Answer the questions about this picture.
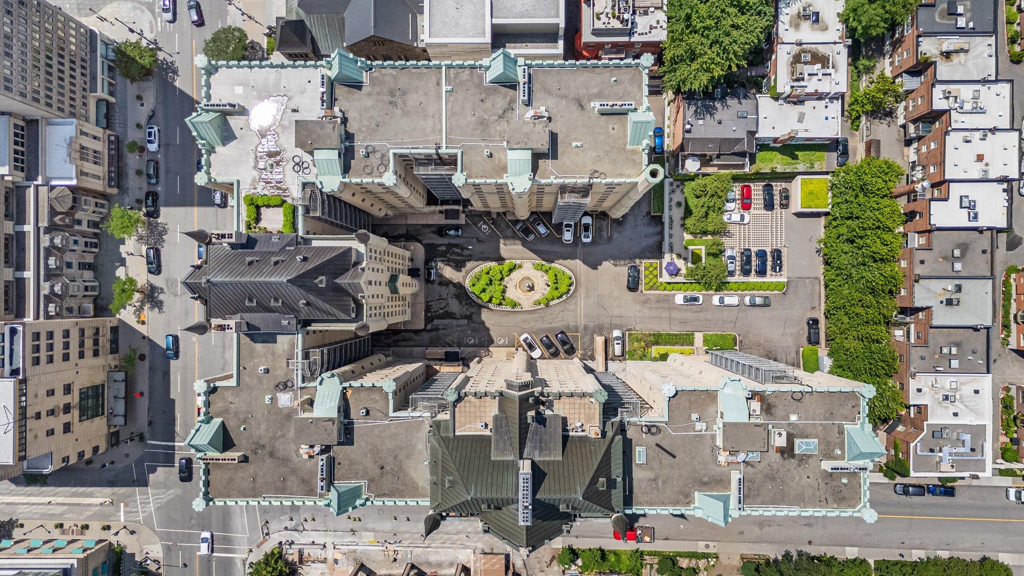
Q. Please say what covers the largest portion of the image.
buildings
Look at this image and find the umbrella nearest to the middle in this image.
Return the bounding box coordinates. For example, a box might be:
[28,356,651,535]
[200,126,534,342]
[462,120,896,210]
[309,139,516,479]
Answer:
[663,262,677,274]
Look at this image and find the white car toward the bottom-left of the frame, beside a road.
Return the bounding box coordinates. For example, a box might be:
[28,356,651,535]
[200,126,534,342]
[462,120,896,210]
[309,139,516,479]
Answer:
[199,528,213,557]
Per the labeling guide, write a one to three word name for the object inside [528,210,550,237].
car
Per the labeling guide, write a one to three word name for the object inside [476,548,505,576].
building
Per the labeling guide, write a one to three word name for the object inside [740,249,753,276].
vehicle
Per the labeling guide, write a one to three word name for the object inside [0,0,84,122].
building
